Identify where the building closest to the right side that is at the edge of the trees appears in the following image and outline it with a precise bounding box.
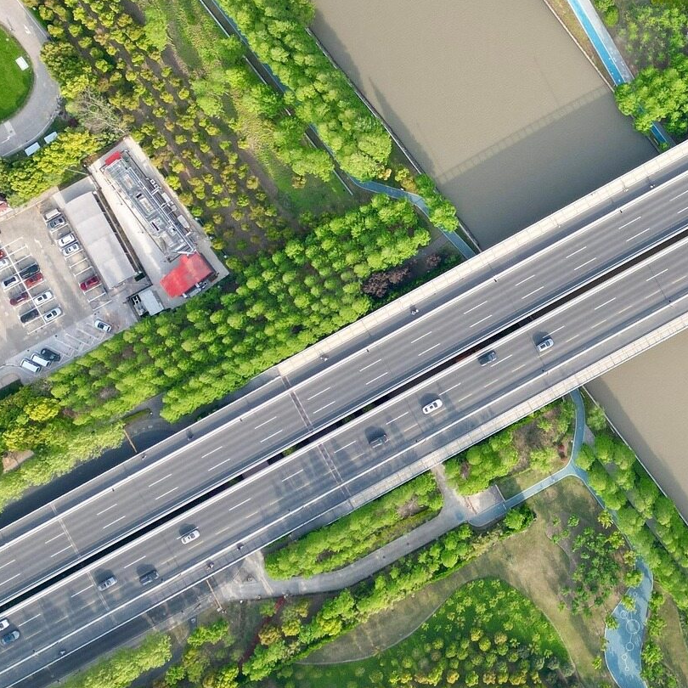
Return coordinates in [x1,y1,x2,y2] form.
[161,250,223,297]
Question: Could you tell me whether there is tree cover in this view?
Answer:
Yes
